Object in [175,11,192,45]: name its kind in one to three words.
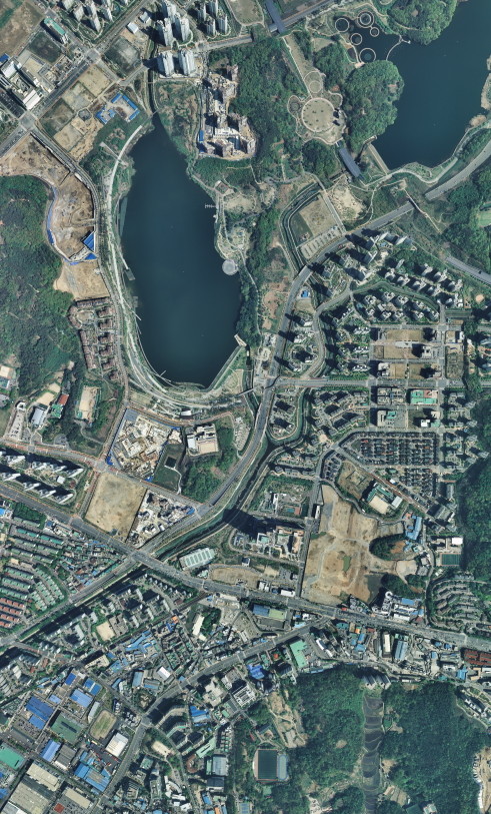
building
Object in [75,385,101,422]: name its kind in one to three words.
sports field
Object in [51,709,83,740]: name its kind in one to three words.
building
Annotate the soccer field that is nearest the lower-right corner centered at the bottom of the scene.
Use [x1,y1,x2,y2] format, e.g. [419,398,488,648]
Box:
[254,749,278,781]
